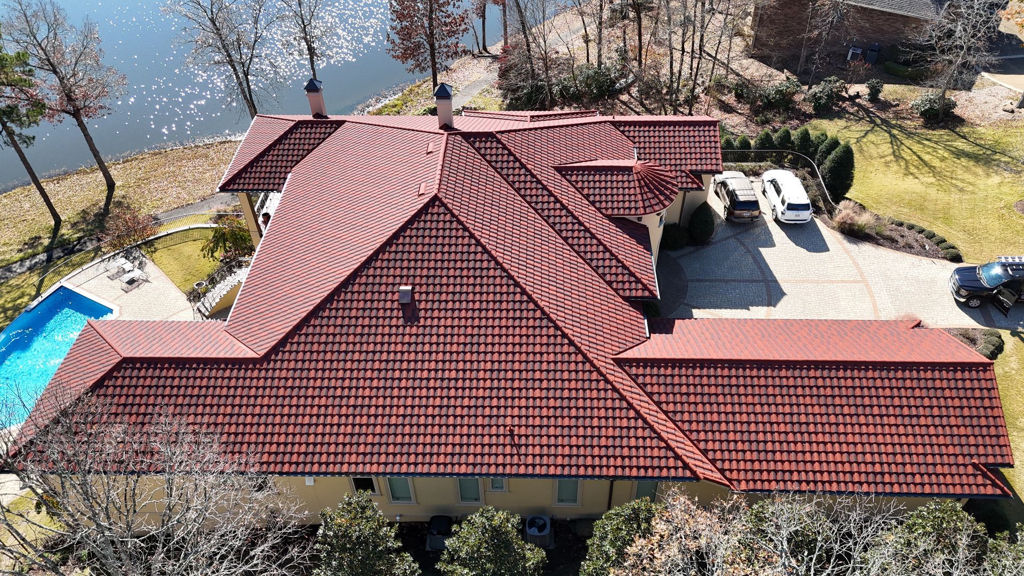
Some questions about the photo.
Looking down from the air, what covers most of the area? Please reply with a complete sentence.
The scene is dominated by buildings.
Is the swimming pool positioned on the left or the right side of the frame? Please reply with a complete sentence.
The swimming pool appears in the left half of the scene.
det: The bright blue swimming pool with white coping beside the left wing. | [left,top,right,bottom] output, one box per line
[0,282,120,432]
